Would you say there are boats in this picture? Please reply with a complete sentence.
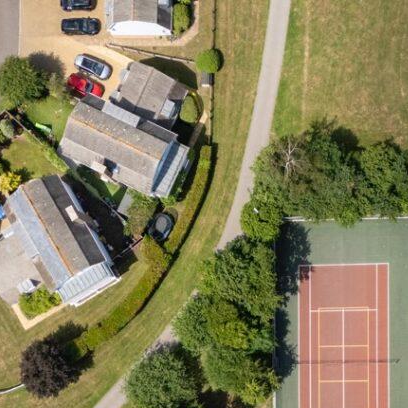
No, there isn't any boat down there.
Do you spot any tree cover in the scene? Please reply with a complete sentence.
Yes, there's tree cover in this view.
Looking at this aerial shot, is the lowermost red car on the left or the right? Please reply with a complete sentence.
The lowermost red car appears in the left half of the scene.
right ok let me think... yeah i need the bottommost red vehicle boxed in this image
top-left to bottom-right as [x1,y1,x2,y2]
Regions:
[66,73,103,100]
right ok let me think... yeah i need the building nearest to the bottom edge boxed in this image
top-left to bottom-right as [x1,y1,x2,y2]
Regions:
[0,173,123,310]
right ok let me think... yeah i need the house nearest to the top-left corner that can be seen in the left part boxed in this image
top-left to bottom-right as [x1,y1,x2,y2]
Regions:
[106,0,172,37]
